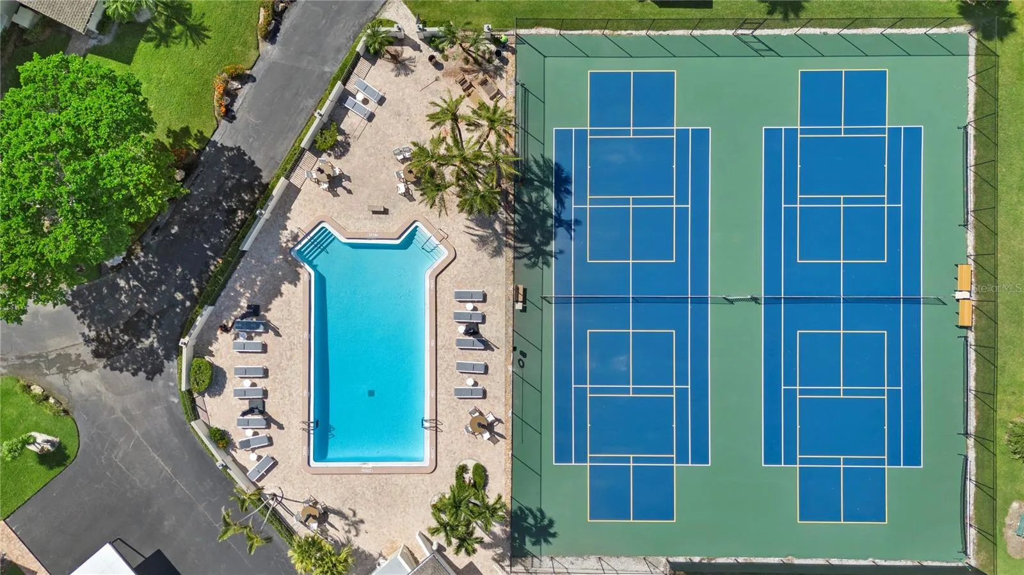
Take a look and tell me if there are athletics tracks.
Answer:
No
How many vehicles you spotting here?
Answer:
0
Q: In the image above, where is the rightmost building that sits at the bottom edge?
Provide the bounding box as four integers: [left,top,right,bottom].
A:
[405,544,466,575]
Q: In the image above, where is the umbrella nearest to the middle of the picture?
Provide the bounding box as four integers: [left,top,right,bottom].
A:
[462,322,478,336]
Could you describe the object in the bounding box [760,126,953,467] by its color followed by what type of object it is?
blue tennis court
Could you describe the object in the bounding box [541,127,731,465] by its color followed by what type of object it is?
blue tennis court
